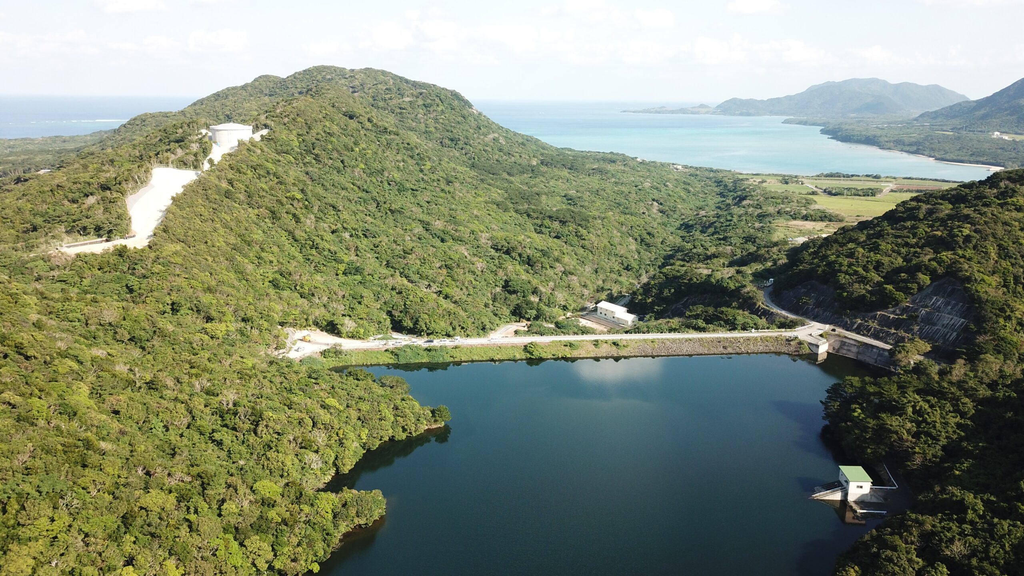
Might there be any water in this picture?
Yes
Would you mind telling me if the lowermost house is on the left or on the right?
right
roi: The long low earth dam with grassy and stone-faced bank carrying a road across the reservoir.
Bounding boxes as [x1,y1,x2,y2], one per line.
[300,329,806,366]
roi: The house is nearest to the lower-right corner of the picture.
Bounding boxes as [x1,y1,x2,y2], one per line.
[807,467,880,503]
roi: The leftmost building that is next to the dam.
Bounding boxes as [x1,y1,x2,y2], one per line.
[597,300,641,325]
